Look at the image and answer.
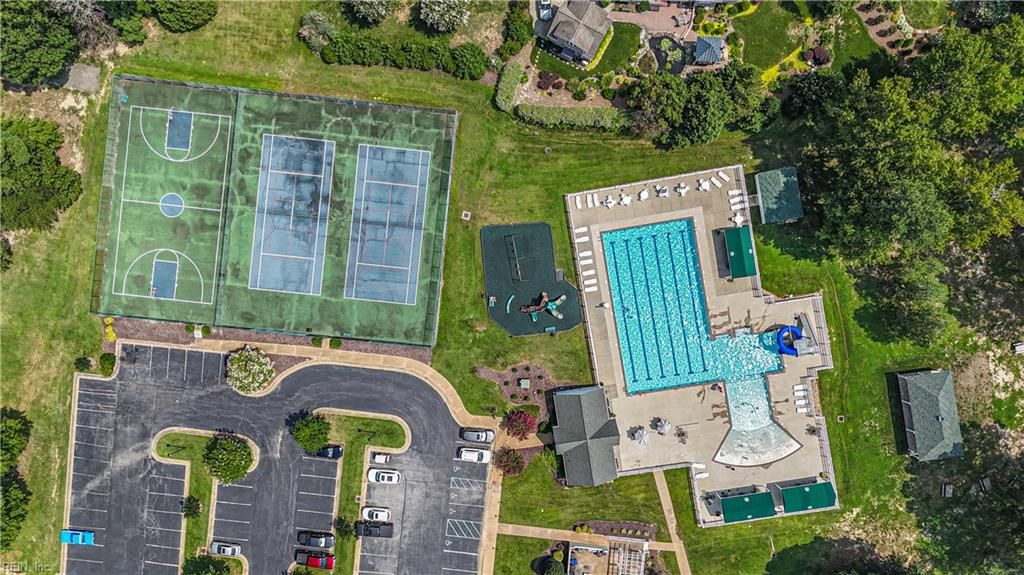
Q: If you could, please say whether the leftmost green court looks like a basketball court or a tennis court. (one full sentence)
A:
I'd say the leftmost green court is a basketball court.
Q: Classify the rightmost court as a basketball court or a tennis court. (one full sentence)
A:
The rightmost court in the image is a tennis court.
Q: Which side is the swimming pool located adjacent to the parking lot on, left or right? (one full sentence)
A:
The swimming pool located adjacent to the parking lot is on the right side of the image.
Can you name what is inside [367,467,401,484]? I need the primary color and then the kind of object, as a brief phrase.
white car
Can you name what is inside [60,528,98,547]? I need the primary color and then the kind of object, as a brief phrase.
blue vehicle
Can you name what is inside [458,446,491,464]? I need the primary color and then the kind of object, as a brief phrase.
white car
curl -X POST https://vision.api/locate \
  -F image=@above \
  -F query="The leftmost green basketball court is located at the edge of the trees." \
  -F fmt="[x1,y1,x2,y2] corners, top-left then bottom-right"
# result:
[102,80,244,323]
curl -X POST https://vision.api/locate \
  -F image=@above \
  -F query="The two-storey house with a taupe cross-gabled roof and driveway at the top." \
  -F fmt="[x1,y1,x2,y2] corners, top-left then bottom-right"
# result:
[544,0,623,71]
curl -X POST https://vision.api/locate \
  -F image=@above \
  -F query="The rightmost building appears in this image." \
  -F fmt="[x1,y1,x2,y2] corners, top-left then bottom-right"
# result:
[897,368,964,461]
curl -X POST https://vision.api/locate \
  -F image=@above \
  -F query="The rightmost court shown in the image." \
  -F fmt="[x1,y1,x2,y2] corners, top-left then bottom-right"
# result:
[331,104,458,345]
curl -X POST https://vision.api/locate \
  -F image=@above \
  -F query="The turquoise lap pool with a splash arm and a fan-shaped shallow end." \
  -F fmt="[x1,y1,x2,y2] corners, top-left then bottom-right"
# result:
[588,204,822,477]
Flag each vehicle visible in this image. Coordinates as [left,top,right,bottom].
[60,528,98,547]
[295,551,335,570]
[458,446,491,464]
[367,467,401,484]
[538,0,554,22]
[356,519,394,537]
[213,539,242,555]
[374,452,390,464]
[297,530,336,549]
[312,445,343,460]
[462,428,495,445]
[363,505,392,521]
